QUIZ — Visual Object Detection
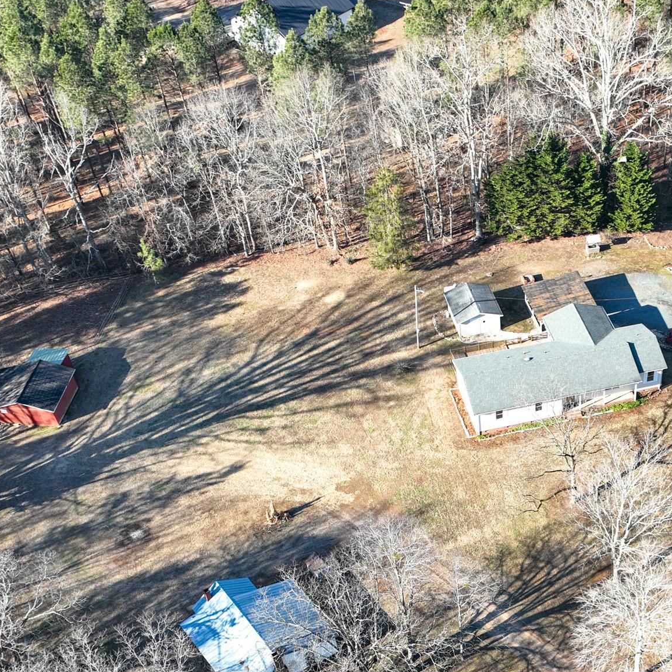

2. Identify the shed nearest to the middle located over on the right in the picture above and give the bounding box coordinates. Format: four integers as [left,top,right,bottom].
[445,282,503,343]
